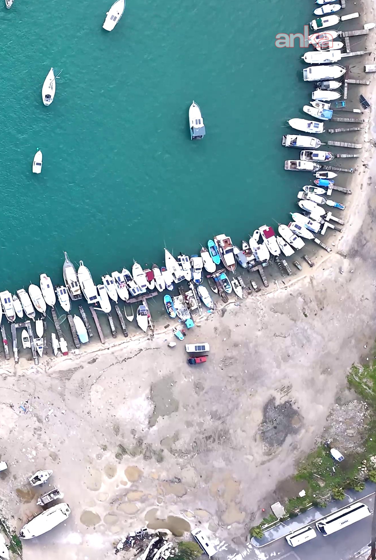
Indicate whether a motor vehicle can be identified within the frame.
Yes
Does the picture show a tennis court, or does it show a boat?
boat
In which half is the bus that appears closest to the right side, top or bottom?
bottom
